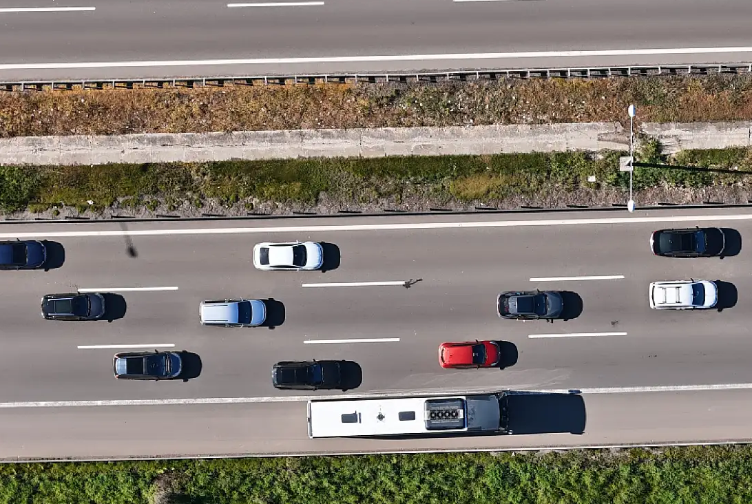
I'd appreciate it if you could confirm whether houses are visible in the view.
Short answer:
No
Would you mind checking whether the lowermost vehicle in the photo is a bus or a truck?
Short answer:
bus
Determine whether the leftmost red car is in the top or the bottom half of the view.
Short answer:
bottom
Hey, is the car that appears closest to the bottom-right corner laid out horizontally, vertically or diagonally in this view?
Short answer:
horizontally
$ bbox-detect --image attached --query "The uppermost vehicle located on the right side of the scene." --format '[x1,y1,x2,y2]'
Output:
[650,224,725,259]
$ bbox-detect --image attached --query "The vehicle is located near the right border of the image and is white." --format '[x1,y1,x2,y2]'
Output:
[649,277,718,312]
